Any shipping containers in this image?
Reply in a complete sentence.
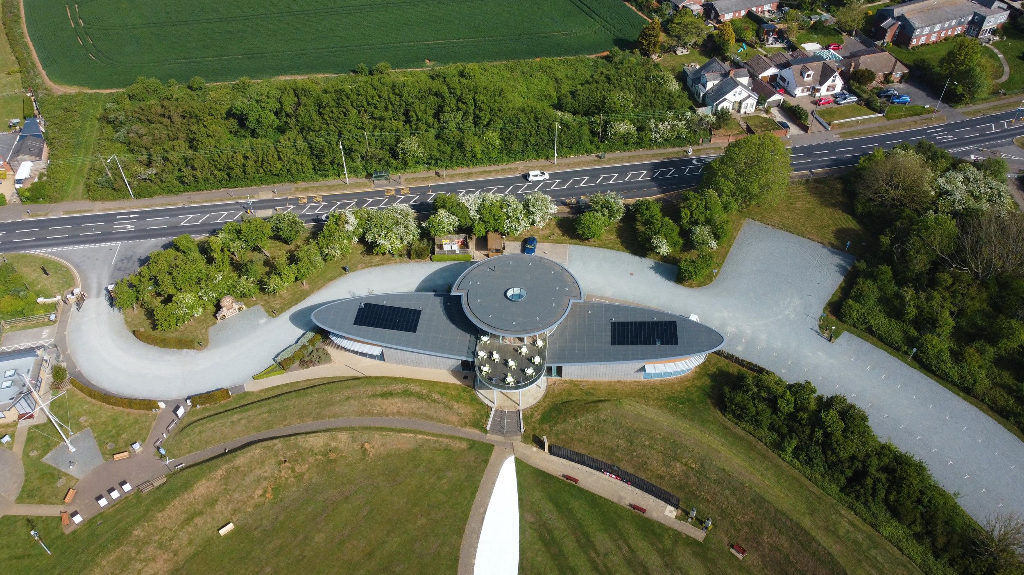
No, there is no shipping container in the image.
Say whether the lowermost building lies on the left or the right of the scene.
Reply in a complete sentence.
The lowermost building appears in the left half of the scene.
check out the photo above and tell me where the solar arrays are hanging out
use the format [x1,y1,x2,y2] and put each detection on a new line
[611,321,678,346]
[354,303,422,334]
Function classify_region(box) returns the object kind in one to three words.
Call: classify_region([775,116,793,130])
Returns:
car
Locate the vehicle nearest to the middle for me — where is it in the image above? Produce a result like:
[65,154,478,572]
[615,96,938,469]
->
[524,239,537,256]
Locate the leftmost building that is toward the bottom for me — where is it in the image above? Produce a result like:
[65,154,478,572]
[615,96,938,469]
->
[0,348,47,424]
